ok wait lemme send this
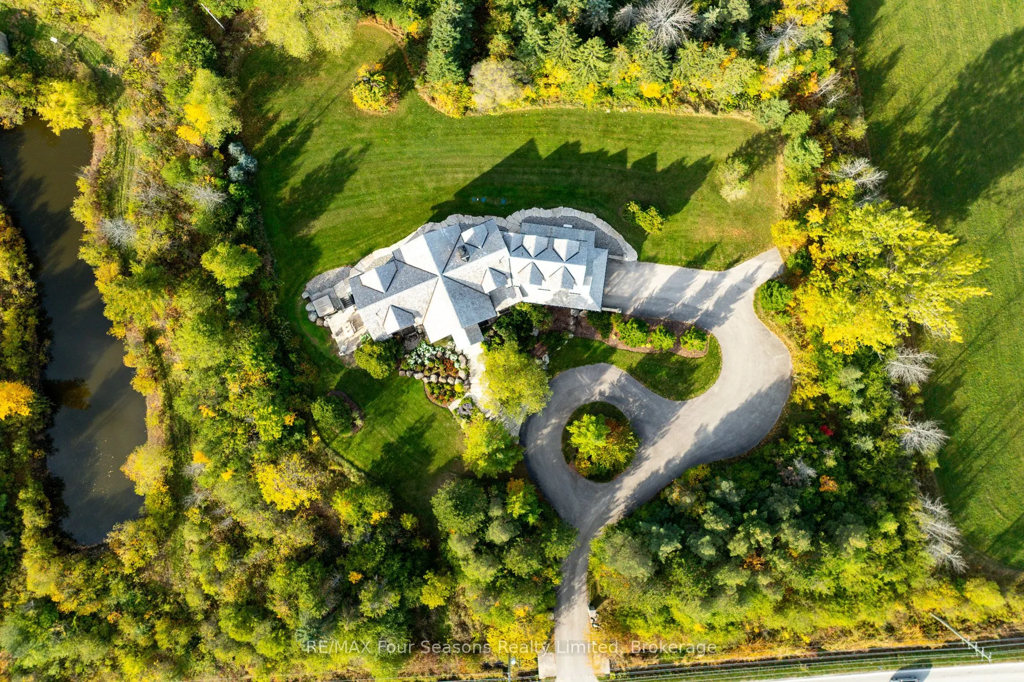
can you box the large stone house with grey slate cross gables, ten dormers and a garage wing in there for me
[349,219,609,351]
